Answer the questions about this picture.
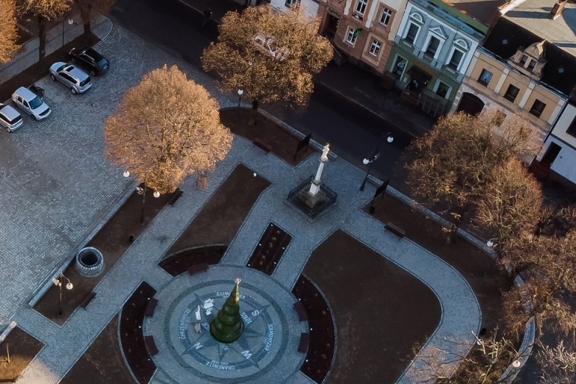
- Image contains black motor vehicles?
Yes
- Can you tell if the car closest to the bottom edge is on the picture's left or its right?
left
